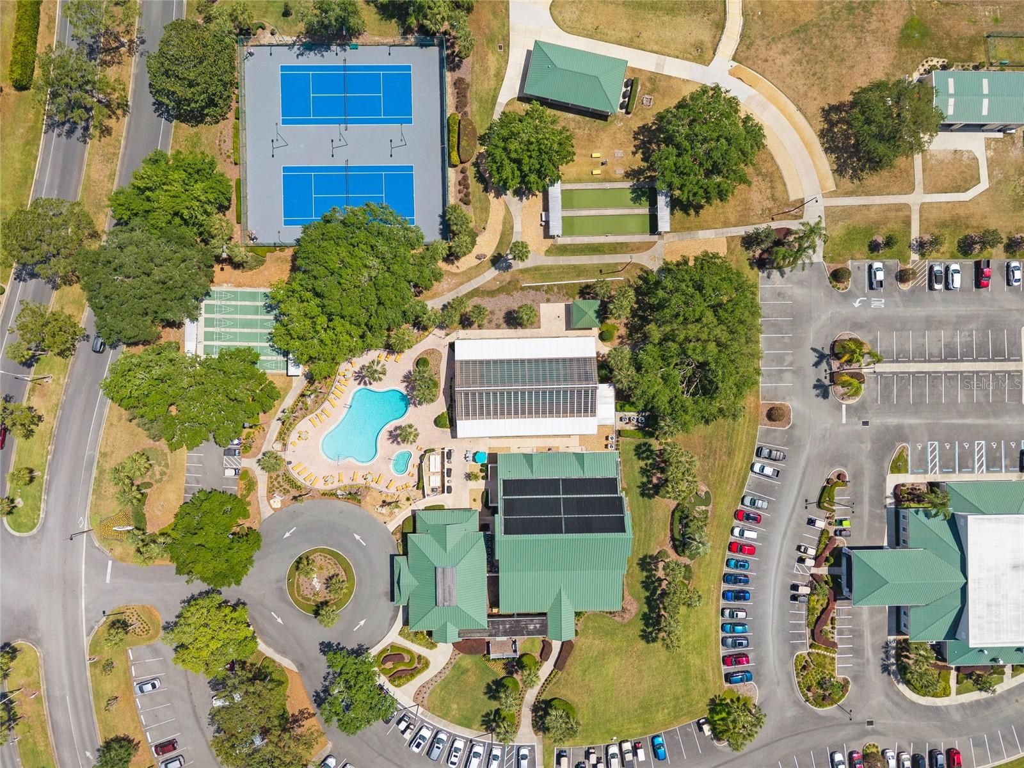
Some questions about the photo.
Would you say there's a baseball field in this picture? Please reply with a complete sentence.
No, the frame has no baseball field in it.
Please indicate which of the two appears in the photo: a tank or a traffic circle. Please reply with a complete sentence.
The one in the frame is a traffic circle.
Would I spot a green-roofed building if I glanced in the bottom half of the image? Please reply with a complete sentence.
Yes, looking in the bottom half of the image, one can make out a green-roofed building.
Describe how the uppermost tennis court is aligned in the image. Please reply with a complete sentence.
I'd say the uppermost tennis court is aligned horizontally in the picture.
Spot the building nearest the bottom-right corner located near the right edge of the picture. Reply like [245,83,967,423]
[851,480,1024,665]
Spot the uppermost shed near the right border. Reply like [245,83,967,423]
[910,70,1024,131]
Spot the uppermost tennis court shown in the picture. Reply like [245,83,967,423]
[279,58,413,128]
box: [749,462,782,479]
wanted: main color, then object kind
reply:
white vehicle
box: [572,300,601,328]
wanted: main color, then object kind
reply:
green gazebo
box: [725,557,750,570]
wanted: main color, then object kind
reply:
blue vehicle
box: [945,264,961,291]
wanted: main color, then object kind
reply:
white car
